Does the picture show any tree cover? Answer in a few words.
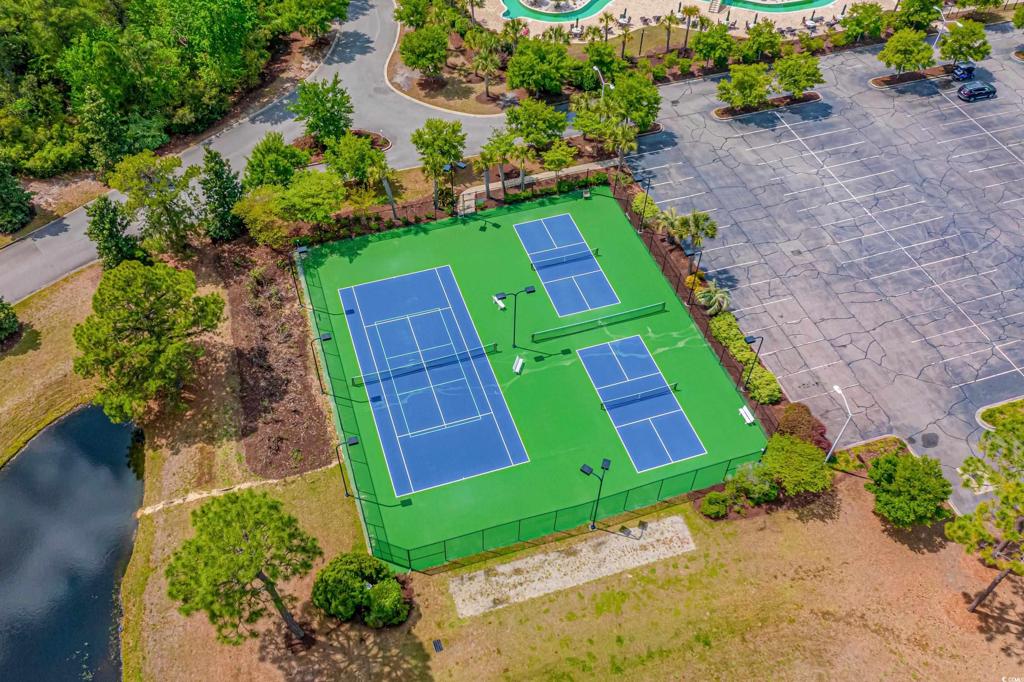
Yes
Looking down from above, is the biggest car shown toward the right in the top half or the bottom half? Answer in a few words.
top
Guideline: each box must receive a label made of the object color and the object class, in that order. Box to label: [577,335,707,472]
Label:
blue sports court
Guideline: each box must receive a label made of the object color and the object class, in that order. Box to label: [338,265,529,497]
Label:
blue tennis court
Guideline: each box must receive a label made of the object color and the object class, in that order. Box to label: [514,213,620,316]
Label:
blue sports court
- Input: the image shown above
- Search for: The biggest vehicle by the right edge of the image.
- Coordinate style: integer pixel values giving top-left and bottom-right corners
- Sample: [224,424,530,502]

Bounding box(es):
[958,78,997,99]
